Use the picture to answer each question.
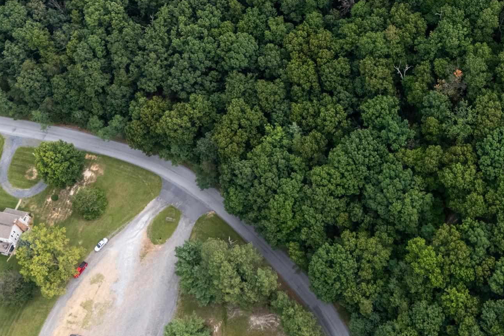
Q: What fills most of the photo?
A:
trees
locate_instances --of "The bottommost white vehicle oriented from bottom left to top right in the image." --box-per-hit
[94,238,110,252]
